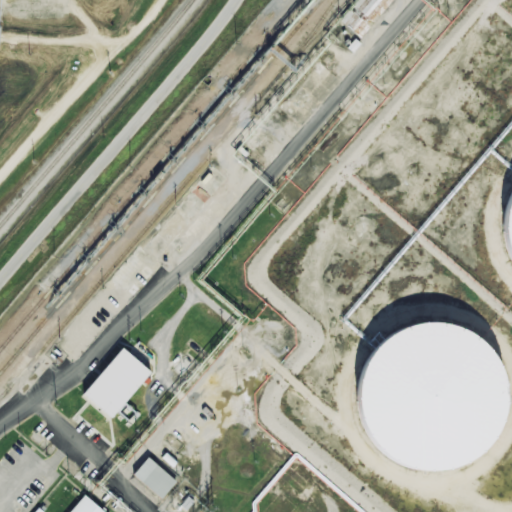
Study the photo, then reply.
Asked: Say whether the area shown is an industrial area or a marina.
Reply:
industrial area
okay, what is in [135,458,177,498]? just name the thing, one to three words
building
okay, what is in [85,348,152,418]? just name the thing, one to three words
building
